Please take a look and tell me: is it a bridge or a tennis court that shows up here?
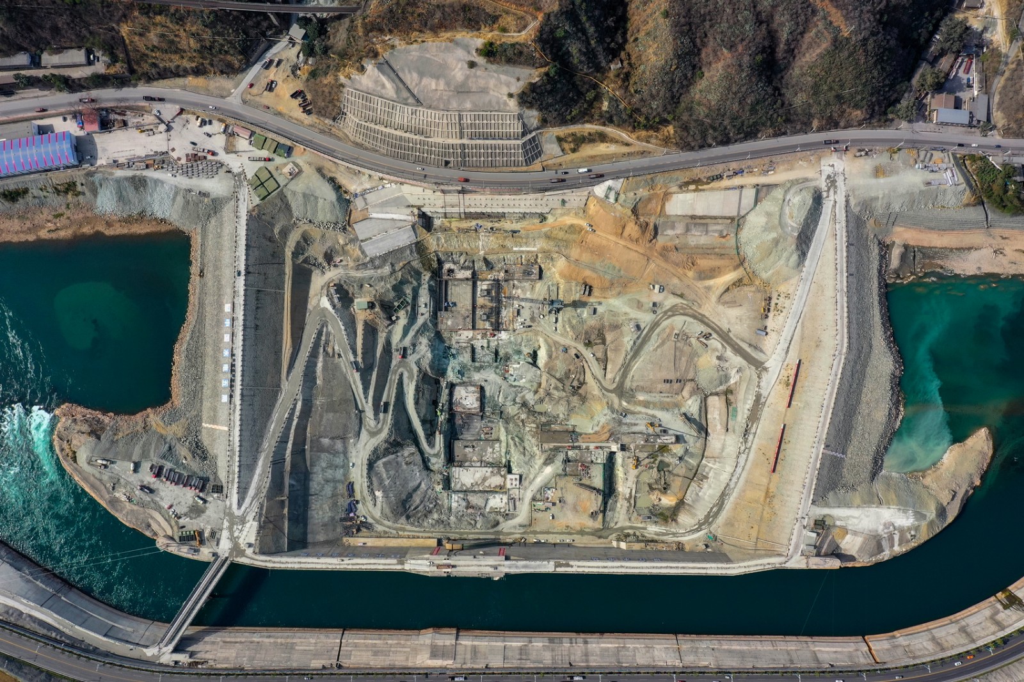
bridge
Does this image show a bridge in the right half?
No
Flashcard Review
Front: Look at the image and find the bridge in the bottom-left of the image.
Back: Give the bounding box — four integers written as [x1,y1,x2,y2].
[158,549,234,653]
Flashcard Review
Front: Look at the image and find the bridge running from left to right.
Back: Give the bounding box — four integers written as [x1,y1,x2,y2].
[208,0,352,25]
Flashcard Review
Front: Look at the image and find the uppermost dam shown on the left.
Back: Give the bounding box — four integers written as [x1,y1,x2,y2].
[168,164,288,539]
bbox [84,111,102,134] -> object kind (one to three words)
building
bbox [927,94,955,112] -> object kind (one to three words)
building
